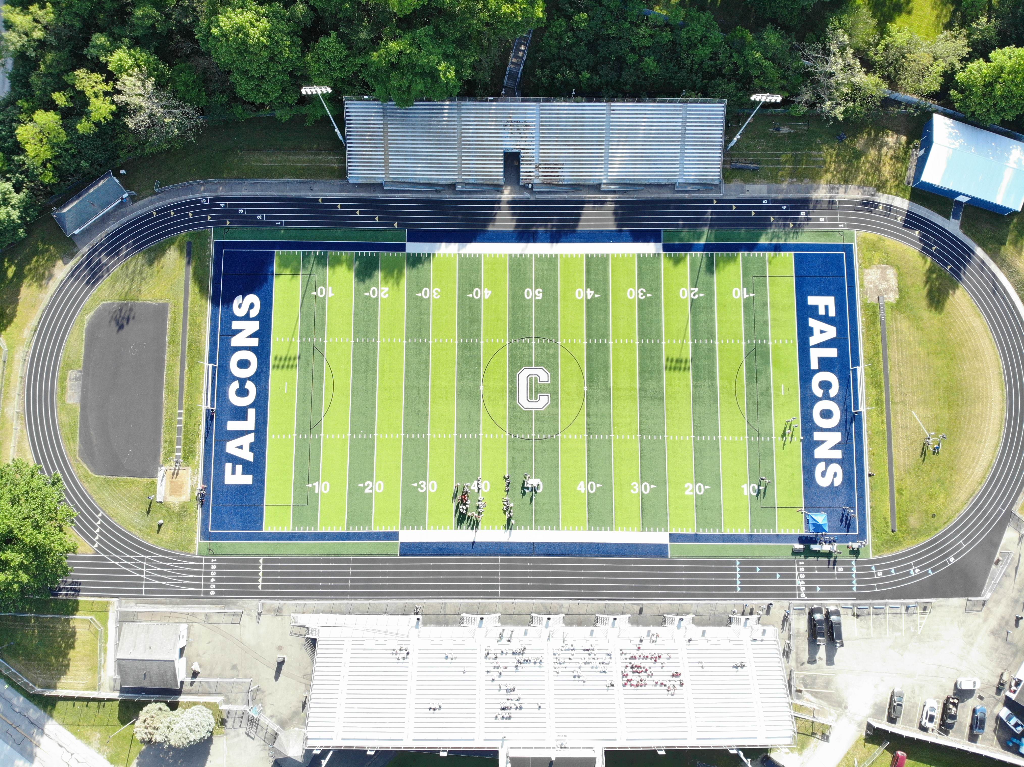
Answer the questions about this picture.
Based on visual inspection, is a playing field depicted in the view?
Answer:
Yes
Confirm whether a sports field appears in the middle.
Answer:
Yes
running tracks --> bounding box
[26,196,1024,600]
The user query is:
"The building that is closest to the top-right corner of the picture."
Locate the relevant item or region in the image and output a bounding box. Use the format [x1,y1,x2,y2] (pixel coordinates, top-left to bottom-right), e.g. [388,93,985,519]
[912,113,1024,219]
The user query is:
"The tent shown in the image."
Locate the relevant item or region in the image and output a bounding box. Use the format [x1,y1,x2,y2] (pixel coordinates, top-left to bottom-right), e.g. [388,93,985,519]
[804,511,828,532]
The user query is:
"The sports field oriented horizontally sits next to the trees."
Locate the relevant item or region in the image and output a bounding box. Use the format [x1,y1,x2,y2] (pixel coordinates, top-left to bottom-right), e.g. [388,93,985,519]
[195,229,874,558]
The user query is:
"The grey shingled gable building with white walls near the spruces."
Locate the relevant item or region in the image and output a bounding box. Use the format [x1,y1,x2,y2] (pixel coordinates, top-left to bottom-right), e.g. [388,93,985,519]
[114,621,197,688]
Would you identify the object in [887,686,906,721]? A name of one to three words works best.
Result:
car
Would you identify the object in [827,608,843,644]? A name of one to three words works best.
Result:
car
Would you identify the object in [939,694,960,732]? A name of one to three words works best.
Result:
truck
